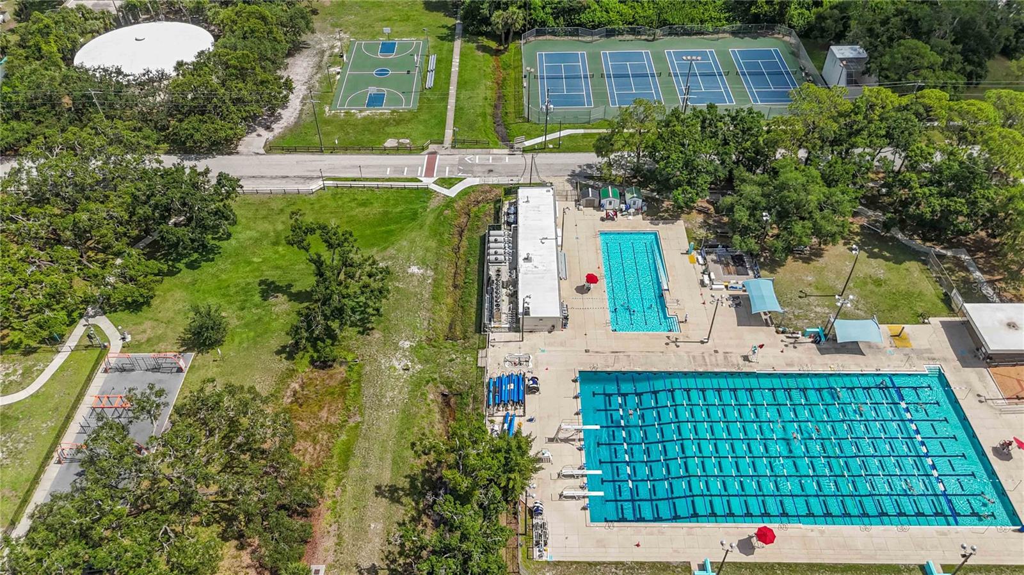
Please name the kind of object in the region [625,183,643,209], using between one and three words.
shed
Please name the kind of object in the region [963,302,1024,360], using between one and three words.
building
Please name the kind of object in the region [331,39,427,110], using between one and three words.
basketball court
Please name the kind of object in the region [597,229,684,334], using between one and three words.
swimming pool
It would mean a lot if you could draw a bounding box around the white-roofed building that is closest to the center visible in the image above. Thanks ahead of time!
[518,186,562,330]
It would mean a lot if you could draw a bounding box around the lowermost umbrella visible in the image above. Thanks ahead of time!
[756,523,778,544]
